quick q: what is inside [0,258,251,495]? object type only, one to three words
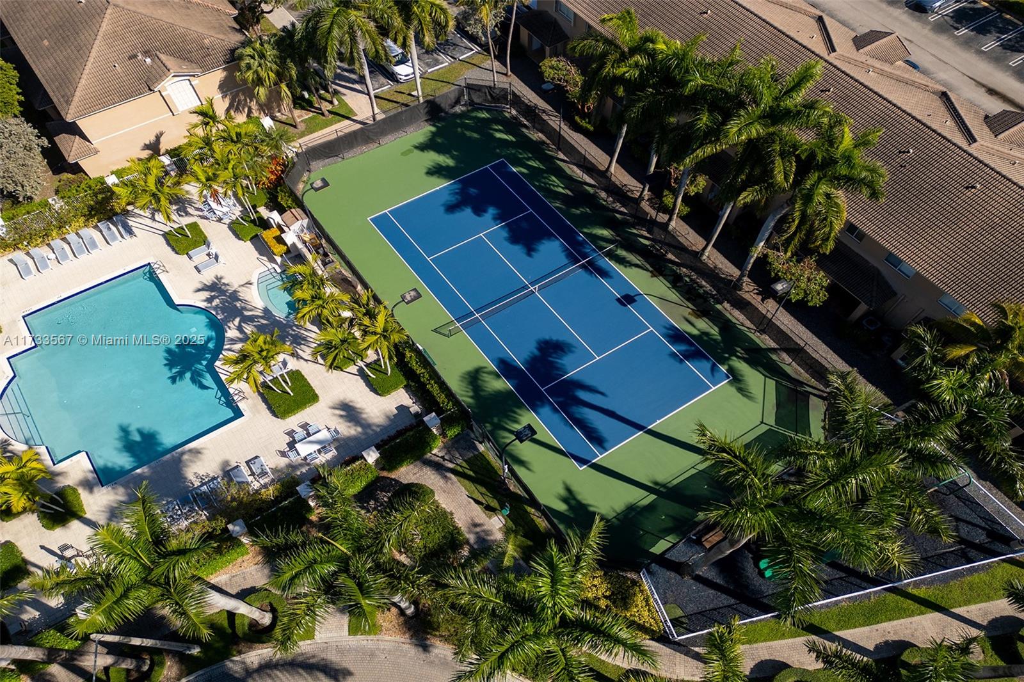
swimming pool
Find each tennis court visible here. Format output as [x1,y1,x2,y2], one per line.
[303,108,826,570]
